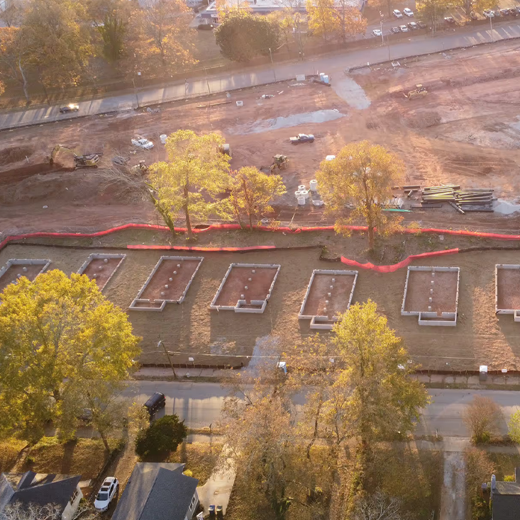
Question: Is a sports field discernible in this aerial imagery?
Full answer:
No, the scene contains no sports field.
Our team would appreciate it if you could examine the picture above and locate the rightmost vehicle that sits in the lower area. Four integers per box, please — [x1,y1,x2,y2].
[131,389,164,419]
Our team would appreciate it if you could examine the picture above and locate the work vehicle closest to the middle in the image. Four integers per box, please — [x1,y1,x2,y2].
[259,153,296,176]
